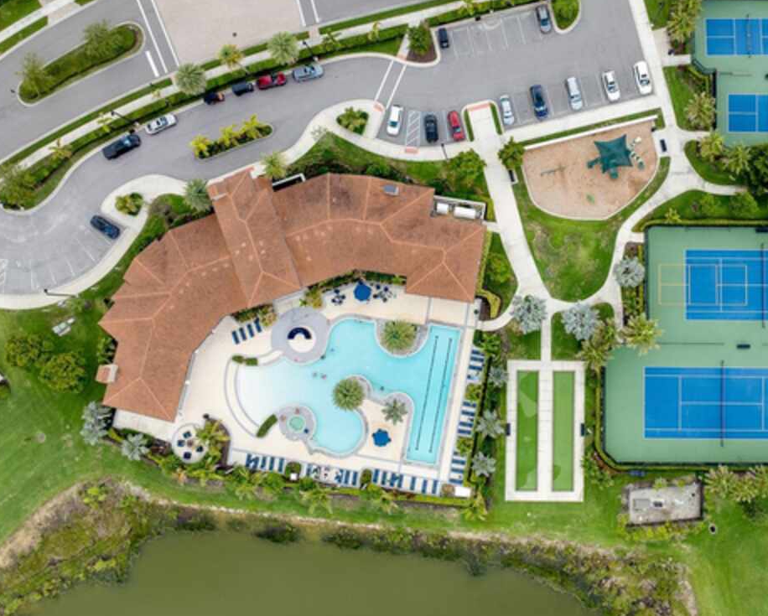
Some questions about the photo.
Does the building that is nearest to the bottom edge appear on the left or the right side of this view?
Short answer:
right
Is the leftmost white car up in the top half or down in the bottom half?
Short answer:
top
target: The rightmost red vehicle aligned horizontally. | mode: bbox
[256,72,285,89]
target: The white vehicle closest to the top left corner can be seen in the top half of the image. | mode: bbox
[144,114,176,134]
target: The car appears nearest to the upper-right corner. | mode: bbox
[634,60,652,92]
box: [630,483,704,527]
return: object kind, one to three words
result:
building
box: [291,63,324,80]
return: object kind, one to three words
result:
car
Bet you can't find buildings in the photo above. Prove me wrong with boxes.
[94,167,487,423]
[630,483,704,527]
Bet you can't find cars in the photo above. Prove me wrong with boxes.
[201,89,226,105]
[567,78,583,108]
[291,63,324,80]
[229,79,254,95]
[144,114,176,134]
[634,60,652,92]
[499,94,514,125]
[531,85,548,116]
[256,72,285,89]
[447,110,463,140]
[88,215,118,238]
[604,70,620,101]
[424,112,438,142]
[536,3,552,32]
[437,26,448,47]
[386,105,401,134]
